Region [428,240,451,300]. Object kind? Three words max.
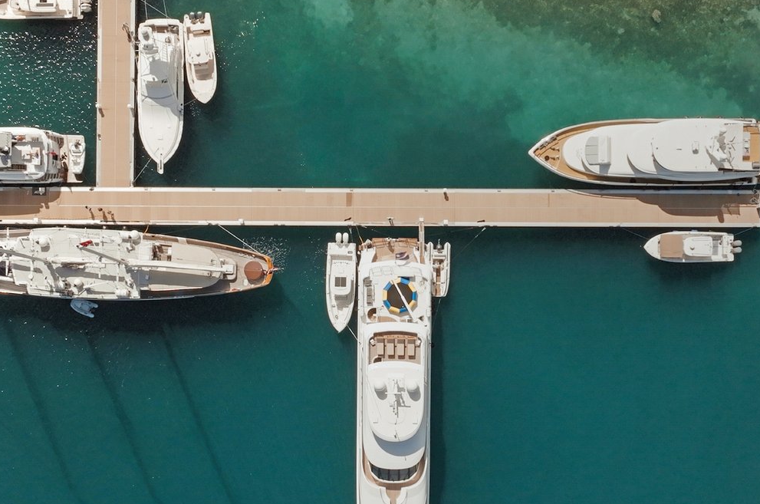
boat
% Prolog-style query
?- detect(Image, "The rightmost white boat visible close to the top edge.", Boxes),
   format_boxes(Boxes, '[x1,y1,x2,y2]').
[185,12,216,104]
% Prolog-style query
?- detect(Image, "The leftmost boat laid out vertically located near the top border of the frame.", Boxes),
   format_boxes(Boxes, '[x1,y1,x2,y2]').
[135,0,185,173]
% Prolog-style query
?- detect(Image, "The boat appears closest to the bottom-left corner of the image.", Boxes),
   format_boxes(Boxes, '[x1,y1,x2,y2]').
[71,299,97,317]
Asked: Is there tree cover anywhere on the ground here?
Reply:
No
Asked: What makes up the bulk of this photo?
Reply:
water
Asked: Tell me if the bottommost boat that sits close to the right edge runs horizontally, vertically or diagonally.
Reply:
horizontally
